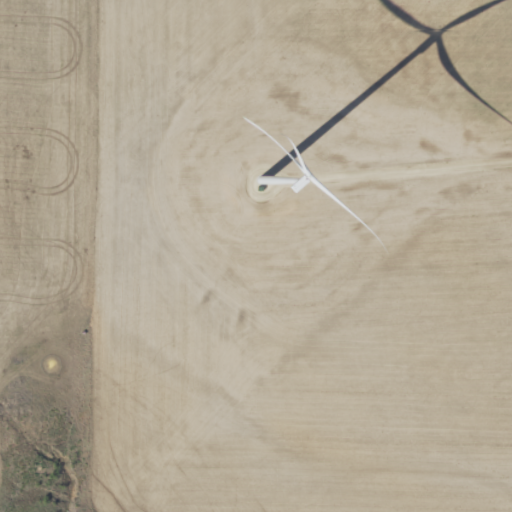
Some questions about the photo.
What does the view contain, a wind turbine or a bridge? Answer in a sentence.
There is a wind turbine in the scene.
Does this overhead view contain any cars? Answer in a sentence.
No, no car is visible in the view.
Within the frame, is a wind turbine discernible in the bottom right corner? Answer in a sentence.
No, there's no wind turbine to be seen in the bottom right corner.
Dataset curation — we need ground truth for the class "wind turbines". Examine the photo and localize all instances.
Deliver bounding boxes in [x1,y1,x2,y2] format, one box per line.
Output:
[244,117,389,255]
